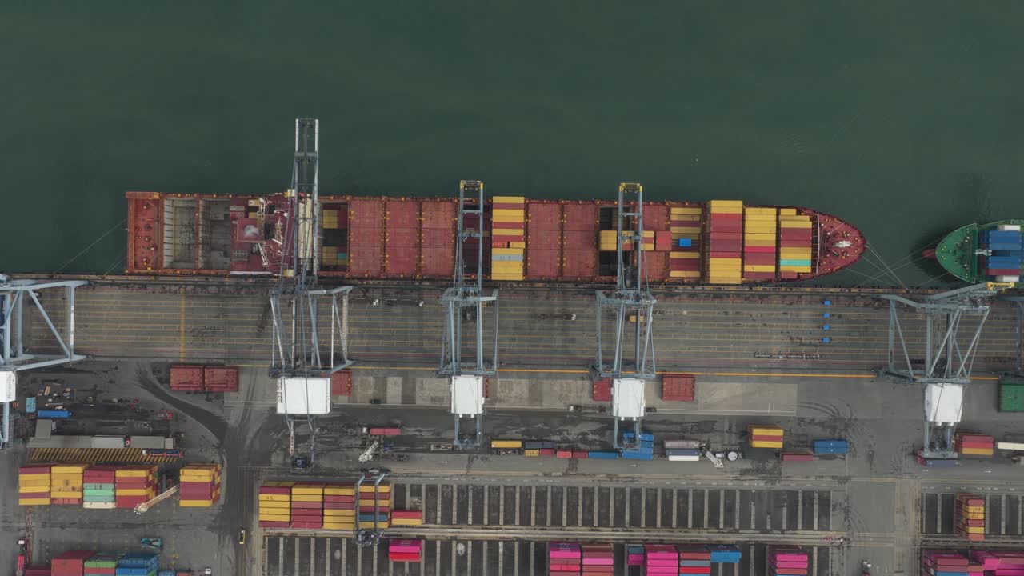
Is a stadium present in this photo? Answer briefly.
No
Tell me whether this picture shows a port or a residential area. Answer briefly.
port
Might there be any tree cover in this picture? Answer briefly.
No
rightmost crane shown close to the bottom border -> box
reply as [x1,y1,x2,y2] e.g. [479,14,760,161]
[353,469,389,552]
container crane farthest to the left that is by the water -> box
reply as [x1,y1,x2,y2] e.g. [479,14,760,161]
[0,278,105,445]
